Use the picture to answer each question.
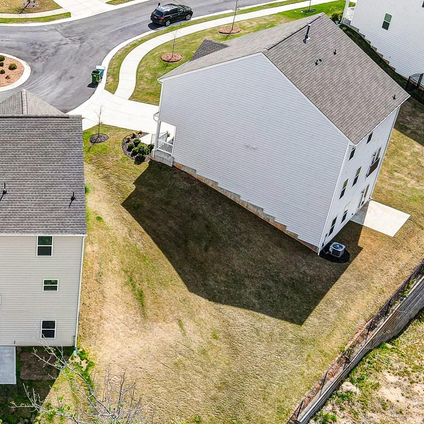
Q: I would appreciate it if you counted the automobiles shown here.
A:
1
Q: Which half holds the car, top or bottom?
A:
top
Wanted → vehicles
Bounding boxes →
[149,2,195,26]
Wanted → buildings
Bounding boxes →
[341,0,424,87]
[0,87,88,349]
[147,10,411,254]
